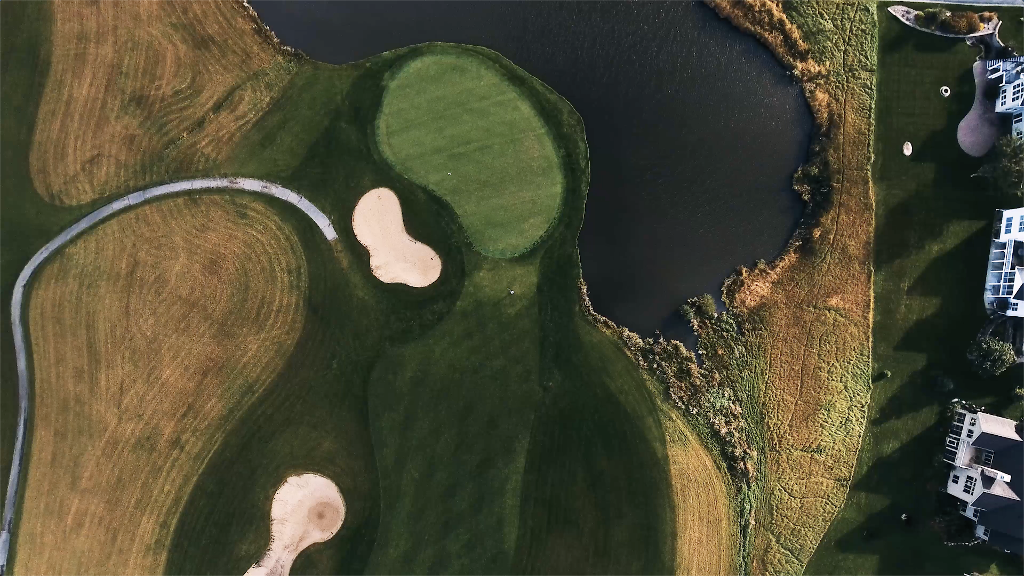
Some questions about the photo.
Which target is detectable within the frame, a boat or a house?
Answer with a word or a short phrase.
house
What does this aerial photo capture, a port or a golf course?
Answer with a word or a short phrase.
golf course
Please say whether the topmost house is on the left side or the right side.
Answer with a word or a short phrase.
right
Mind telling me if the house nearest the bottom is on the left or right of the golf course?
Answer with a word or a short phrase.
on the right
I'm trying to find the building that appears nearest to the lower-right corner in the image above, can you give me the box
[941,410,1024,557]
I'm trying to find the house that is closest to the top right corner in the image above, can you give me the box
[980,50,1024,149]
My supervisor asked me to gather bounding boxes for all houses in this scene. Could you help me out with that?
[980,50,1024,149]
[941,410,1024,557]
[984,209,1024,321]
